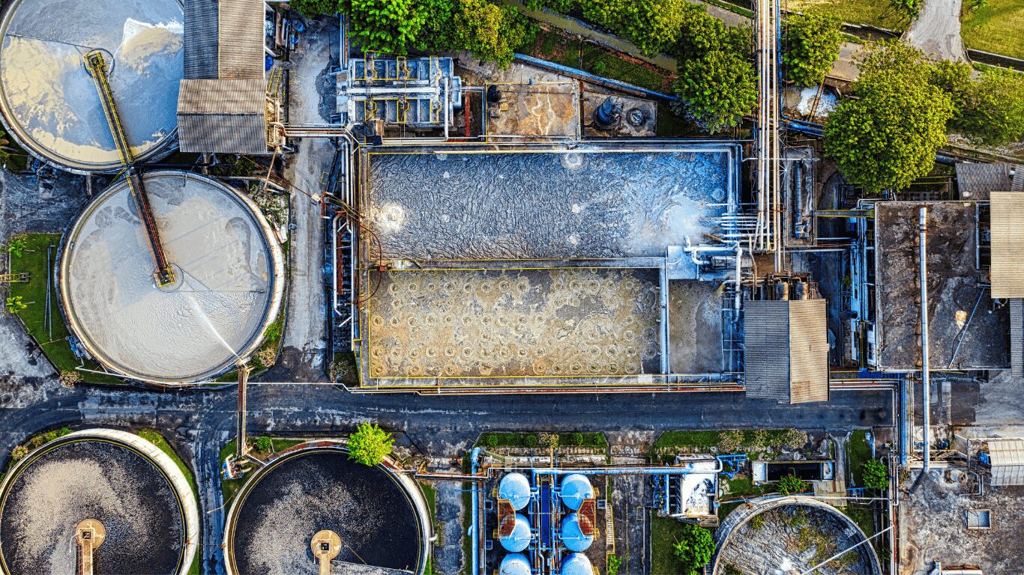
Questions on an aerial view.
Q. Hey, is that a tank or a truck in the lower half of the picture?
tank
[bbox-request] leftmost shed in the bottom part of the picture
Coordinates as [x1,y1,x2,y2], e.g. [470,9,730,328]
[737,300,829,405]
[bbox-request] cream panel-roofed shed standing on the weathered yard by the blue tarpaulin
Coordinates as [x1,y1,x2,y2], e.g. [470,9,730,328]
[971,438,1024,486]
